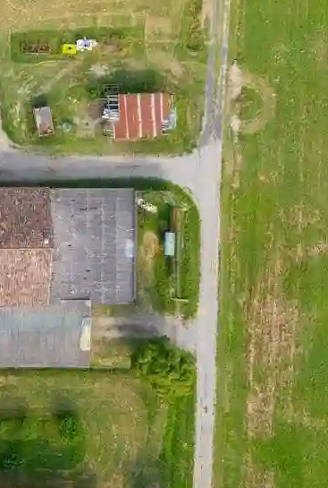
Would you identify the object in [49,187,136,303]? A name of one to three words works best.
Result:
shed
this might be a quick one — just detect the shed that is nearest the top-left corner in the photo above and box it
[35,106,55,136]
